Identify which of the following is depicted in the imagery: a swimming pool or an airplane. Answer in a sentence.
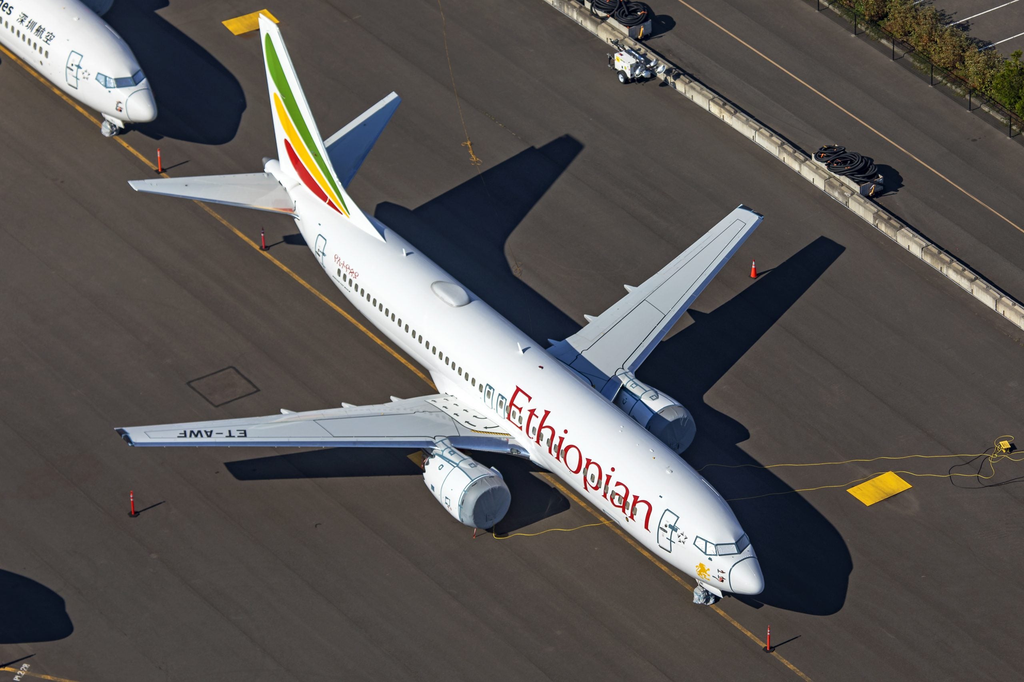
There is an airplane in the scene.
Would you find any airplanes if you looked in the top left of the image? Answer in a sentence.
Yes, the scene does show an airplane in the top left of the image.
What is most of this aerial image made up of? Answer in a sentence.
Most of the picture is covered by paved ground.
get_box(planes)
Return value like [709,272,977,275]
[113,15,767,606]
[0,0,159,138]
